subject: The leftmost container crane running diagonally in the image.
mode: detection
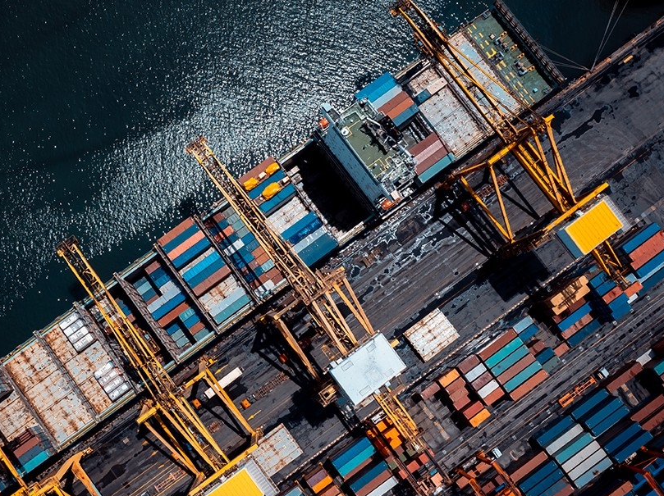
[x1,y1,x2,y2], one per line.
[49,238,277,496]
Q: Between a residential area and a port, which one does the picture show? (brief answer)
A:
port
